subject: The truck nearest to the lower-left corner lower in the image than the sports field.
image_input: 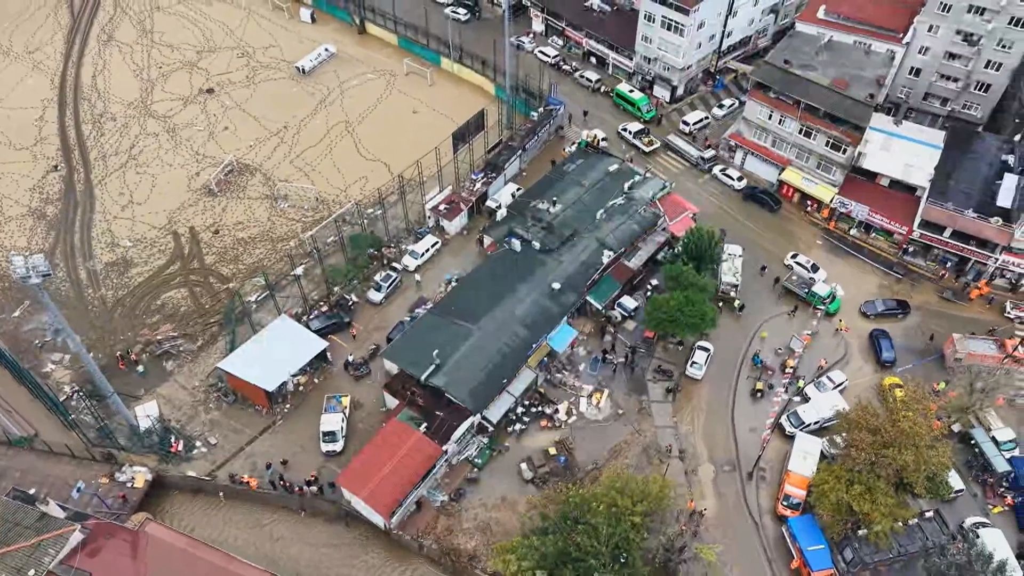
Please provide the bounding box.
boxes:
[318,396,350,457]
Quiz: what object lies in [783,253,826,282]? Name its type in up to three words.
car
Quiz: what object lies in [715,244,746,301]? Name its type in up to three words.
truck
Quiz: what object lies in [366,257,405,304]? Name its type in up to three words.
car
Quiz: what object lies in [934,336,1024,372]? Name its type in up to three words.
truck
